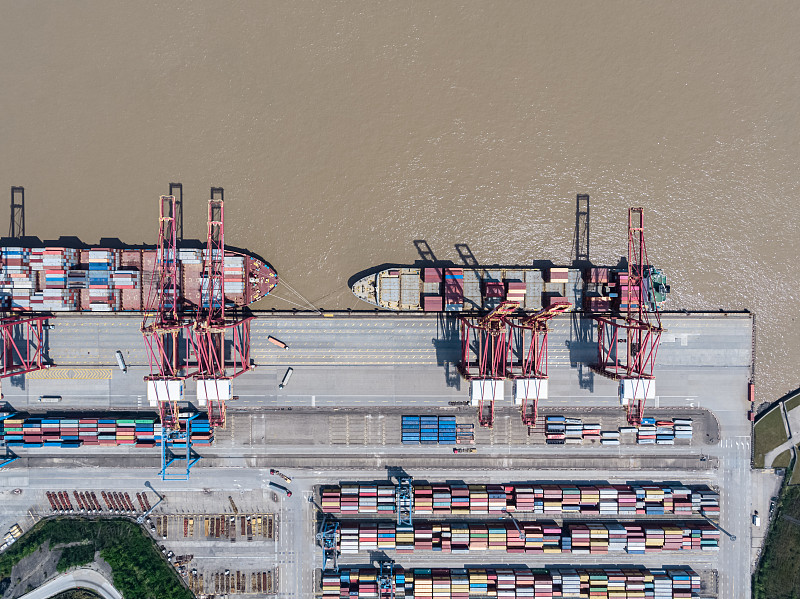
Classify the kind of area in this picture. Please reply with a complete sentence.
It's a port.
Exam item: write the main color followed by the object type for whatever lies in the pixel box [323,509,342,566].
blue container crane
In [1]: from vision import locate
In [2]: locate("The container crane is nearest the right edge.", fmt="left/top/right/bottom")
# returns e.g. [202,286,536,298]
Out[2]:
[582,208,668,426]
